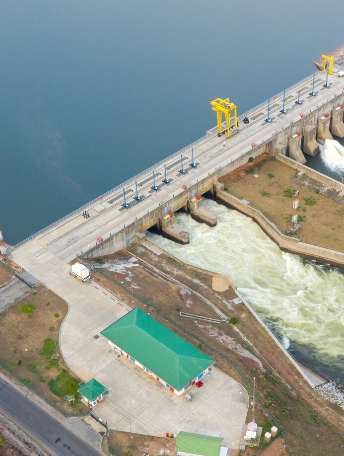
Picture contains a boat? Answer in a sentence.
No, this view has no boat in it.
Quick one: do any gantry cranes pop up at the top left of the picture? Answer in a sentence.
No, there's no gantry crane to be seen at the top left of the picture.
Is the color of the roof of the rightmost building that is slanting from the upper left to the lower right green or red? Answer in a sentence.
The color of the roof of the rightmost building that is slanting from the upper left to the lower right is green.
